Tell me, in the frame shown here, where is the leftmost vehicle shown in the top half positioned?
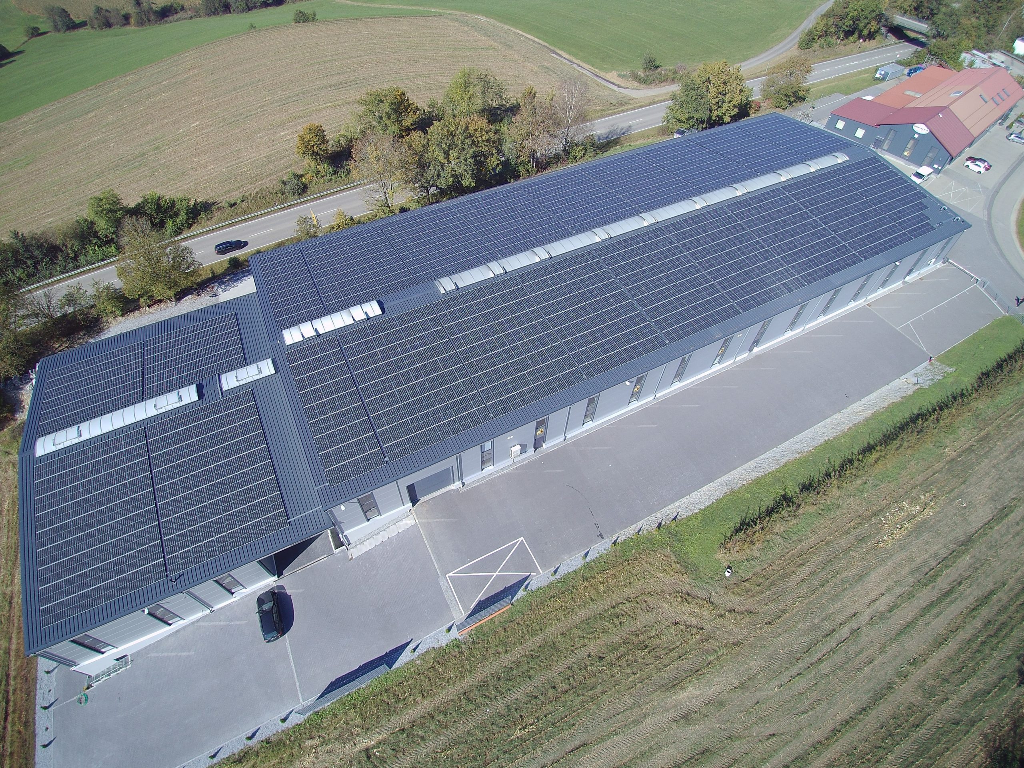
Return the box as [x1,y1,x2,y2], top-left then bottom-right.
[211,238,247,256]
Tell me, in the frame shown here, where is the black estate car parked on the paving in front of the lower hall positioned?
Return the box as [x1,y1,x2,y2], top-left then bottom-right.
[254,586,282,643]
